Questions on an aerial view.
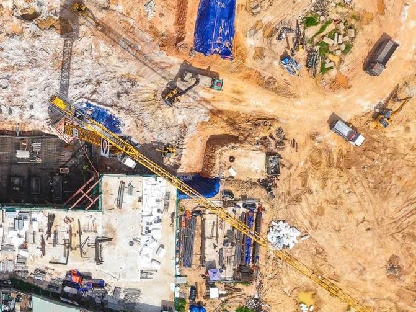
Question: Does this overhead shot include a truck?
Yes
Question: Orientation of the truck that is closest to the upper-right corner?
on a diagonal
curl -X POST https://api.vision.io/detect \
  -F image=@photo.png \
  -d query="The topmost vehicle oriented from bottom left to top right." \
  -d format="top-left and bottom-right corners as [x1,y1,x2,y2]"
[367,33,407,77]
